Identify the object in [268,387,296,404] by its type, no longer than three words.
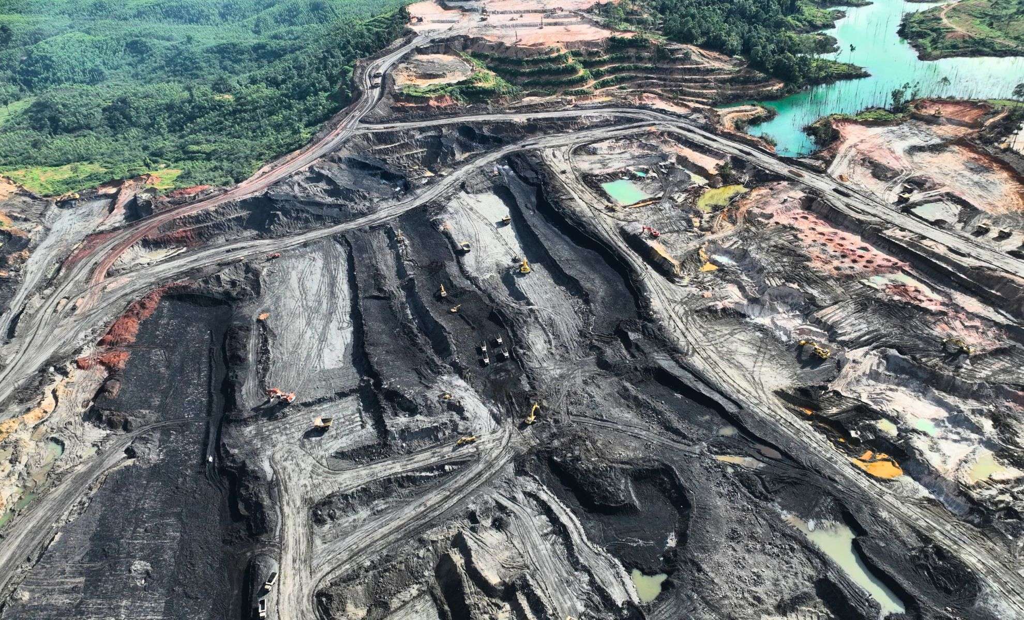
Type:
work vehicle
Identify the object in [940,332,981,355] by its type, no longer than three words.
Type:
work vehicle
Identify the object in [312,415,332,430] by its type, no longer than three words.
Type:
vehicle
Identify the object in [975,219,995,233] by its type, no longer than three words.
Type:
vehicle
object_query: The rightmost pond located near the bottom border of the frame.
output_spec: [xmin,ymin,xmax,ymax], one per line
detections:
[784,518,907,620]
